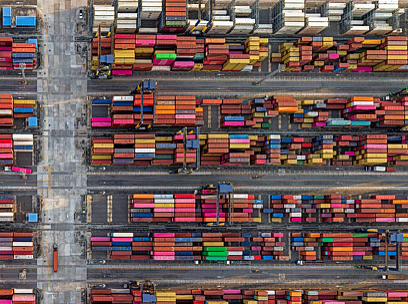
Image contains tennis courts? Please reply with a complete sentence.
No, there appears to be no tennis court in this shot.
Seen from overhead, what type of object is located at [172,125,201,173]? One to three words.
container crane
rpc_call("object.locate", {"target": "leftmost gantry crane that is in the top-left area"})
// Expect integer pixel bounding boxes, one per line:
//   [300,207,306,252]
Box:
[91,23,115,77]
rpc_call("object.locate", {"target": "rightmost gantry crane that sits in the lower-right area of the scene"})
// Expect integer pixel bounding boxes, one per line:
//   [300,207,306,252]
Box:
[361,225,403,269]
